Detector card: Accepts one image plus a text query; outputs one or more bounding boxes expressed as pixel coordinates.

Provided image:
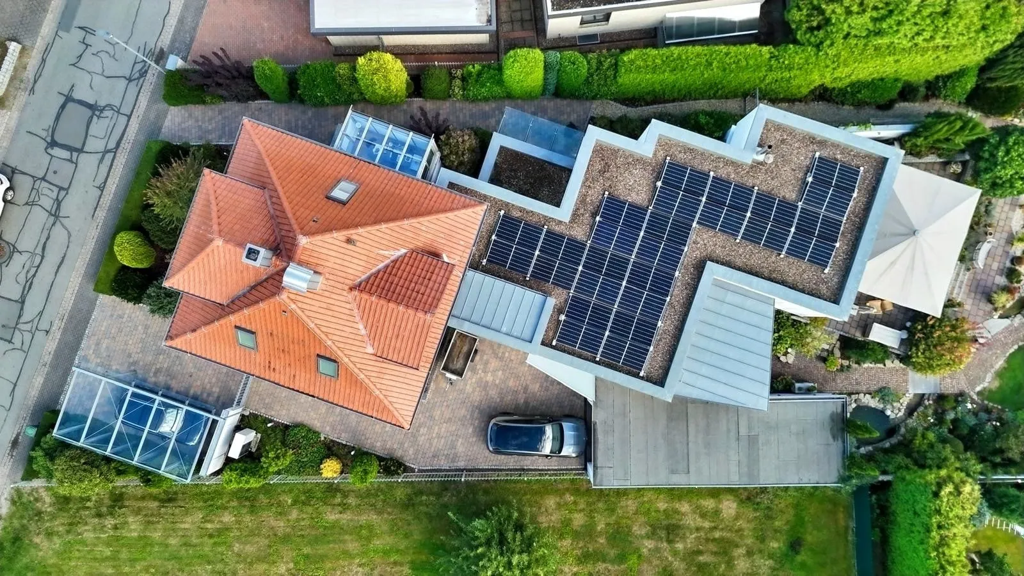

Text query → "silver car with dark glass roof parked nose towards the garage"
[489,412,584,464]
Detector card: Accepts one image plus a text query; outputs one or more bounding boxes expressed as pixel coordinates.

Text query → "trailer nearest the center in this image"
[440,330,479,390]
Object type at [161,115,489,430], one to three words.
house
